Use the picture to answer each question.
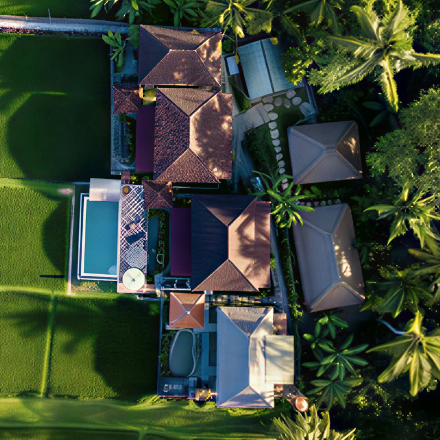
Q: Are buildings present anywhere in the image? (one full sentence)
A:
Yes, looking at the shot, I can spot a building.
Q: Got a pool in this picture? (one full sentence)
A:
Yes, the photo shows a pool.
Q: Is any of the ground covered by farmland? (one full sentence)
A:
Yes, farmland shows up in the scene.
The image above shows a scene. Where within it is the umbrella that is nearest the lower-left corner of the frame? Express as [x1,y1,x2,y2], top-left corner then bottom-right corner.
[123,267,145,290]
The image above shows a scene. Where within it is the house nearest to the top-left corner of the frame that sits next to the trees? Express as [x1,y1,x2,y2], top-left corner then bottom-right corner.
[139,25,223,87]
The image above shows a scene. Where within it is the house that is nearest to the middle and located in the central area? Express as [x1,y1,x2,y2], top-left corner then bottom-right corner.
[191,193,271,292]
